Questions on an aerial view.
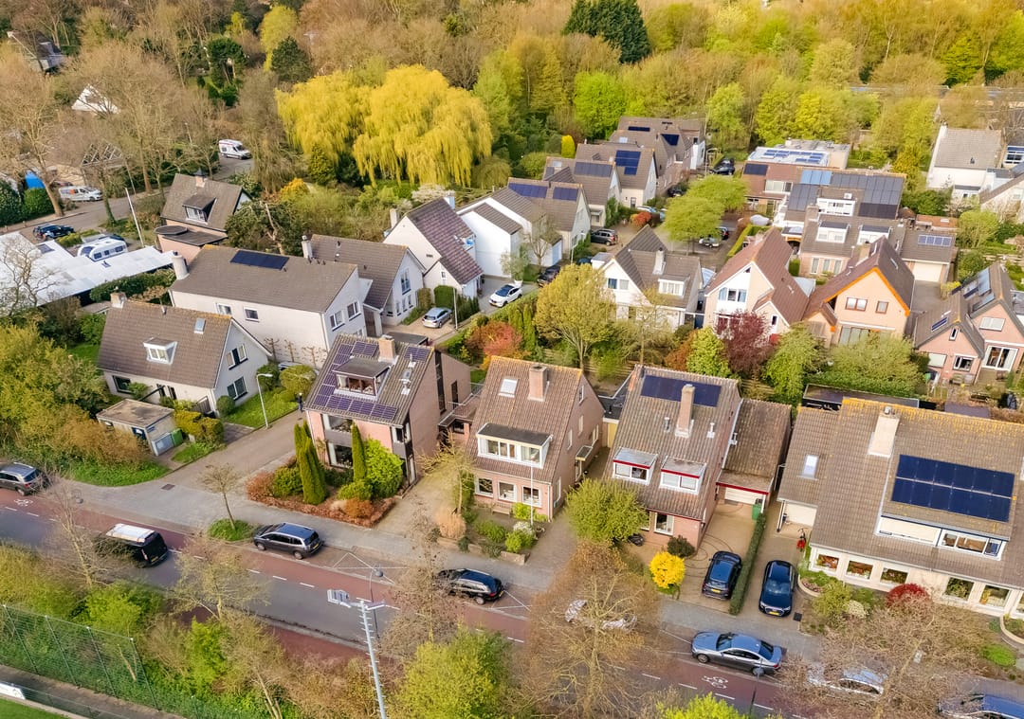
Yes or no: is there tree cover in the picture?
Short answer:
Yes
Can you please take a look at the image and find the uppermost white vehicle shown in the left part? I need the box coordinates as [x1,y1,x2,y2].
[221,139,246,158]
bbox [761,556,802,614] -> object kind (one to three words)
car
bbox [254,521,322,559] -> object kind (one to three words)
car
